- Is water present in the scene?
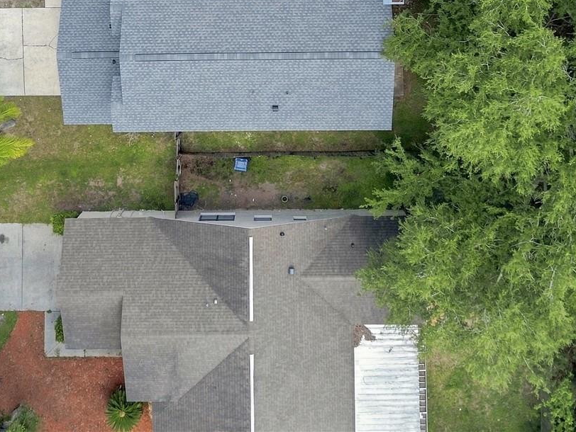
No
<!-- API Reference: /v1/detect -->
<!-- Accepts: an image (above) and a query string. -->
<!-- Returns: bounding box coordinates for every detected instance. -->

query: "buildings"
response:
[58,0,405,131]
[58,207,418,432]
